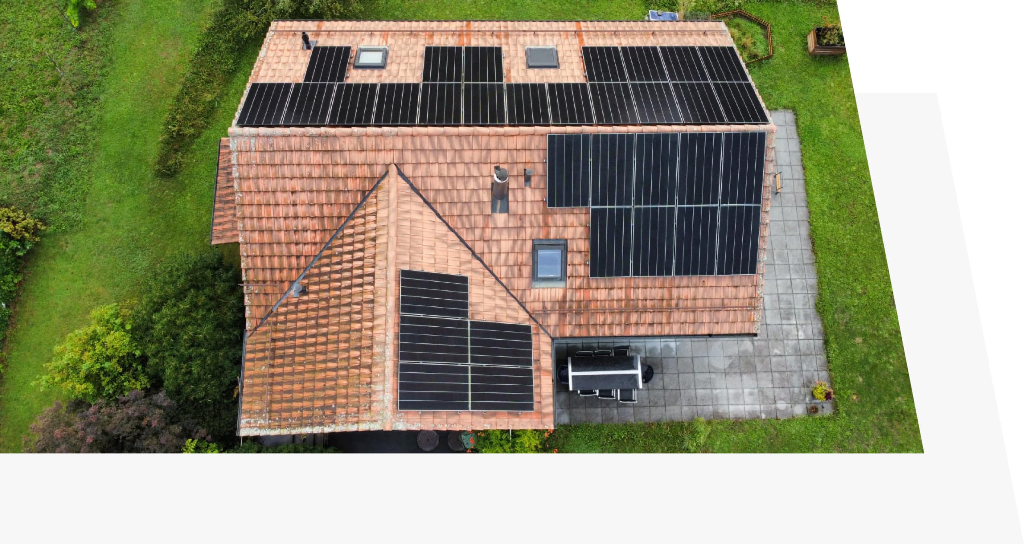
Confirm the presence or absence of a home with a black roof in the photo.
No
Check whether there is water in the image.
No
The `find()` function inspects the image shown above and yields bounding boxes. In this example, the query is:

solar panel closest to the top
[648,6,679,19]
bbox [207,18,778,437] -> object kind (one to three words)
house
